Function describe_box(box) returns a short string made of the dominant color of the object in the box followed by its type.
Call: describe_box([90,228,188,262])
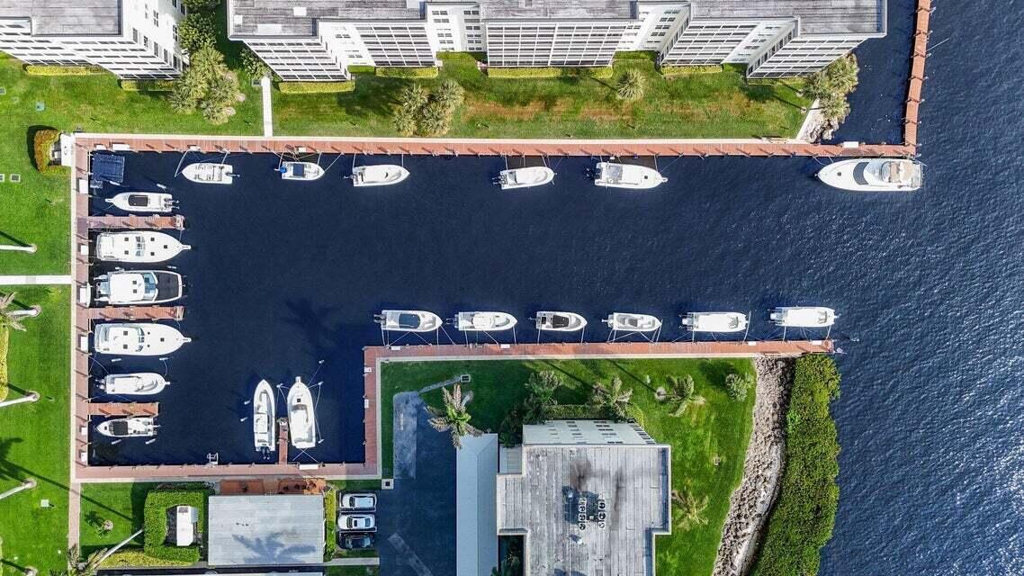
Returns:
white boat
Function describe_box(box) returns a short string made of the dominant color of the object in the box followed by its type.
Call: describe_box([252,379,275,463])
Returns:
white boat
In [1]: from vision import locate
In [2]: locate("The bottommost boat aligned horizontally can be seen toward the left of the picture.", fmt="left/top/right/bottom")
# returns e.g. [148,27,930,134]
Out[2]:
[90,417,168,436]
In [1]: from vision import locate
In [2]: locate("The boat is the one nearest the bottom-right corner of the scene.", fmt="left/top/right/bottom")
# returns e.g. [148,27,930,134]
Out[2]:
[761,307,840,339]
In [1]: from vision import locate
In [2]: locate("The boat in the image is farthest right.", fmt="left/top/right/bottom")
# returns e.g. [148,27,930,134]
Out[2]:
[816,156,924,191]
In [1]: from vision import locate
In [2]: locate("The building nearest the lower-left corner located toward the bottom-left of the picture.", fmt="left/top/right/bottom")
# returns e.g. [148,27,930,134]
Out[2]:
[208,495,326,565]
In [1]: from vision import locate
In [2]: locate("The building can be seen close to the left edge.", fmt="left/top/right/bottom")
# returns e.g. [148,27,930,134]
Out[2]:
[0,0,182,78]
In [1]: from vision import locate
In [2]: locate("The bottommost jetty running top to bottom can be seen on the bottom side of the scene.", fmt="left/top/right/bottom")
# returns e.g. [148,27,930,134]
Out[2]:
[274,418,290,464]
